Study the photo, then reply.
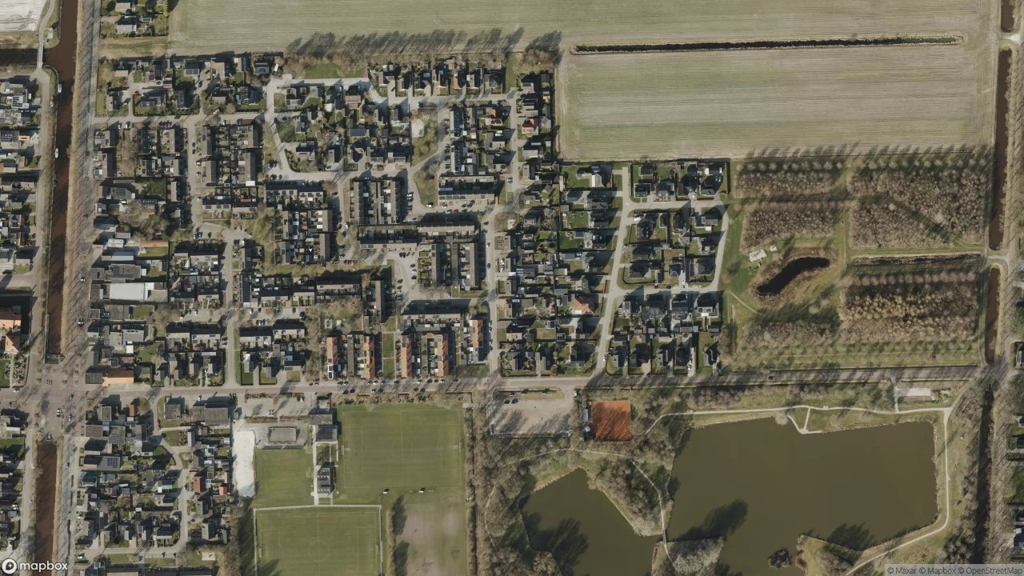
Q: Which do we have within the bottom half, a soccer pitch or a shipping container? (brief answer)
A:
soccer pitch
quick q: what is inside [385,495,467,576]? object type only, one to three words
sports field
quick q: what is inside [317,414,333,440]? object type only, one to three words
building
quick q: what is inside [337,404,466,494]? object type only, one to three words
soccer field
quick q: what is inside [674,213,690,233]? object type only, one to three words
house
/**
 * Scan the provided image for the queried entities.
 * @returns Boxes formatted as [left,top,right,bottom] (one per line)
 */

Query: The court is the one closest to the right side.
[592,399,631,441]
